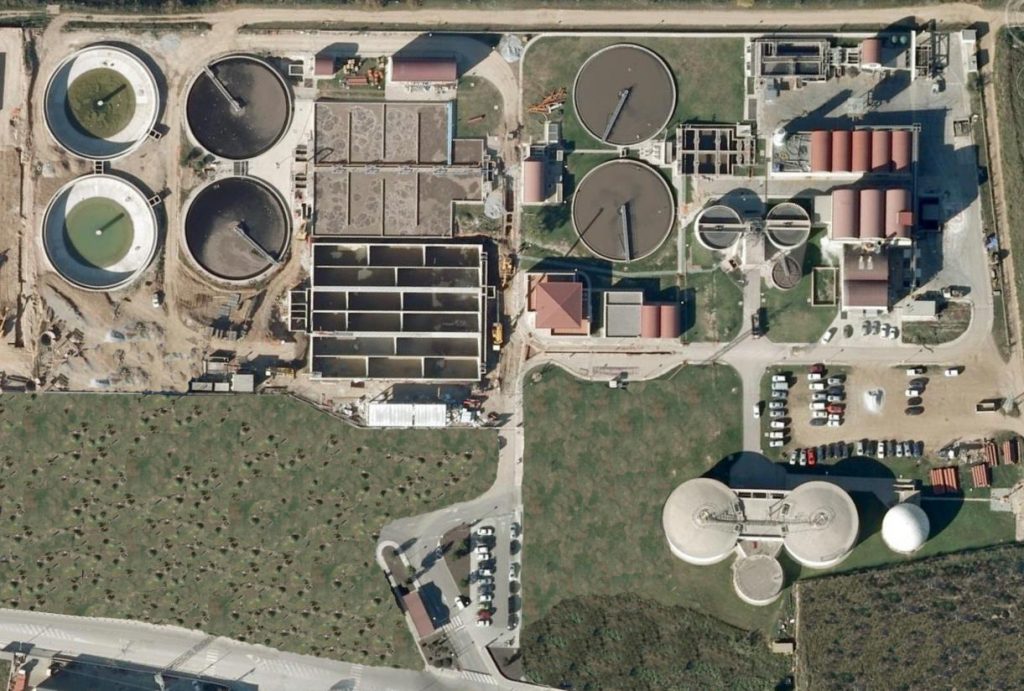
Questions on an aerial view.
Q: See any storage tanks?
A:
Yes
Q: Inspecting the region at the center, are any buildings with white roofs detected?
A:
Yes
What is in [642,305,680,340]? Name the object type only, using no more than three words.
shed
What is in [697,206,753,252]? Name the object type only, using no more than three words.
storage tank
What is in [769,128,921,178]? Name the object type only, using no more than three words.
building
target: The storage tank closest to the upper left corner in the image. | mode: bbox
[43,47,159,161]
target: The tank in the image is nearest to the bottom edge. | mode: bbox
[733,555,782,605]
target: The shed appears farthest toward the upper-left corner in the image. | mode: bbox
[315,59,334,79]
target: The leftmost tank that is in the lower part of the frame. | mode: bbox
[661,480,740,563]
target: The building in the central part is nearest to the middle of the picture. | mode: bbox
[526,274,591,340]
